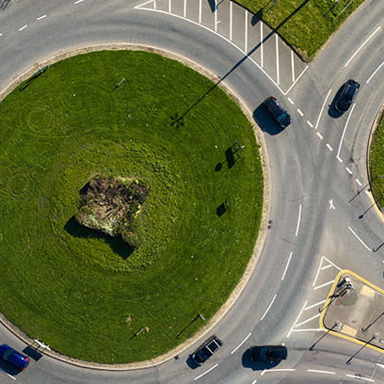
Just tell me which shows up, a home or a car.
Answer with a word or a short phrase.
car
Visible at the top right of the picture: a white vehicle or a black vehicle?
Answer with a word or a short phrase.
black vehicle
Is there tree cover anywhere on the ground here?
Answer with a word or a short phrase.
No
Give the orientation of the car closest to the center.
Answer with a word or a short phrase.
at an angle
